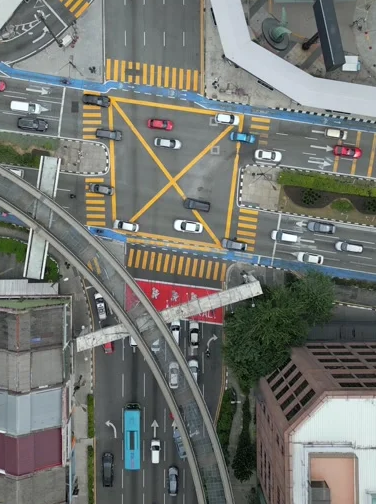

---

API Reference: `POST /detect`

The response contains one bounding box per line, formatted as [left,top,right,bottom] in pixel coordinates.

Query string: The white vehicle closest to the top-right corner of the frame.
[323,128,348,141]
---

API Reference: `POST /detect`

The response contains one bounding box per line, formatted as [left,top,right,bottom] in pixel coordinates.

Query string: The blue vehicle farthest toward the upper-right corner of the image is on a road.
[229,132,256,145]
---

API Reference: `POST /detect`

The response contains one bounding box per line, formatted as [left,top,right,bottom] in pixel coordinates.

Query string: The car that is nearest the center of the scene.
[173,219,203,233]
